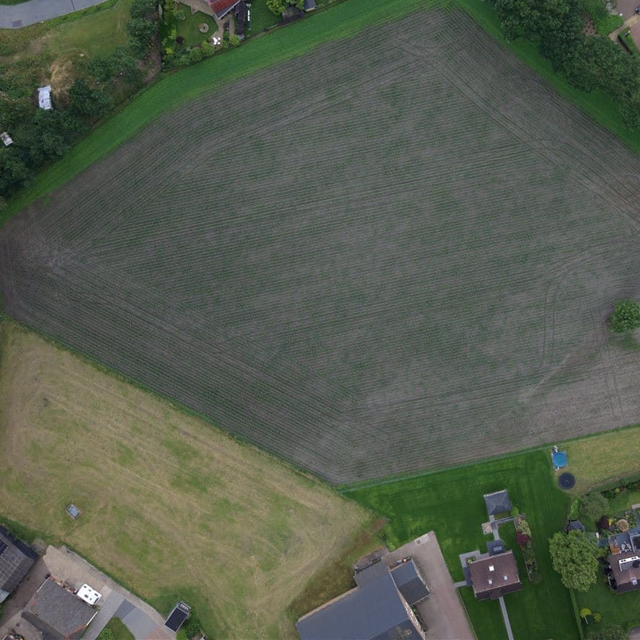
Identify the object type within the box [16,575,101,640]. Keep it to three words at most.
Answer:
house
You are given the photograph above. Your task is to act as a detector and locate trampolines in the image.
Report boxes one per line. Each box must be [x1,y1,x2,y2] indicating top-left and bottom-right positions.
[558,472,575,489]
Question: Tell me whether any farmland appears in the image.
Yes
